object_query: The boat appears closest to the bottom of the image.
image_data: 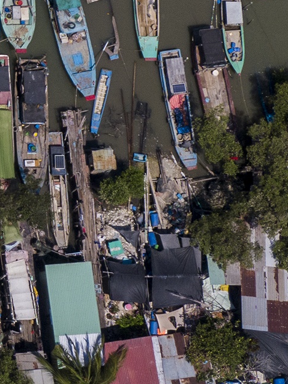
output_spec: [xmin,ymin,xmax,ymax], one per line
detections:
[47,132,70,247]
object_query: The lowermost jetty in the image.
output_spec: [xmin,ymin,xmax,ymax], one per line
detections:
[70,173,102,284]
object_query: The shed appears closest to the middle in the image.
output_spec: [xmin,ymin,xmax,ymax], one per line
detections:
[86,146,116,170]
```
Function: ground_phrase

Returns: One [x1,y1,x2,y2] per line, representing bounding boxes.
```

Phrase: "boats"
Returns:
[47,132,70,247]
[187,28,236,143]
[0,55,16,181]
[156,49,197,170]
[131,0,160,61]
[217,0,246,74]
[88,68,112,132]
[14,59,50,191]
[0,0,36,54]
[43,0,96,101]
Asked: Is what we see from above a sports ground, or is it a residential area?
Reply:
residential area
